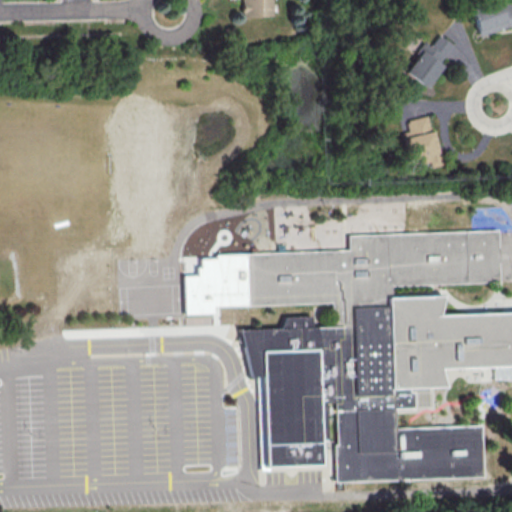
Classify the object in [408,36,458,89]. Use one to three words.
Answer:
house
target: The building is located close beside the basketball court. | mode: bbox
[183,231,512,484]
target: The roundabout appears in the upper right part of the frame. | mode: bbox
[466,66,512,135]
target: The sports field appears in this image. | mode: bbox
[0,101,112,298]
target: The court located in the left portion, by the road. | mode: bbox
[118,256,183,319]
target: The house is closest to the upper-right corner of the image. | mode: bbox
[478,4,512,40]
